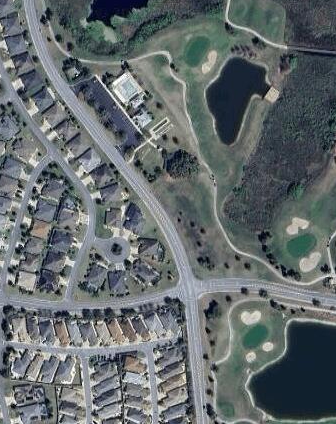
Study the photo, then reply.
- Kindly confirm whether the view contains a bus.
No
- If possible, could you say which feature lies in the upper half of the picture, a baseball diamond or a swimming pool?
swimming pool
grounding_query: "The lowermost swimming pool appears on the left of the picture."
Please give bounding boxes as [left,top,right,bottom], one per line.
[114,72,145,105]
